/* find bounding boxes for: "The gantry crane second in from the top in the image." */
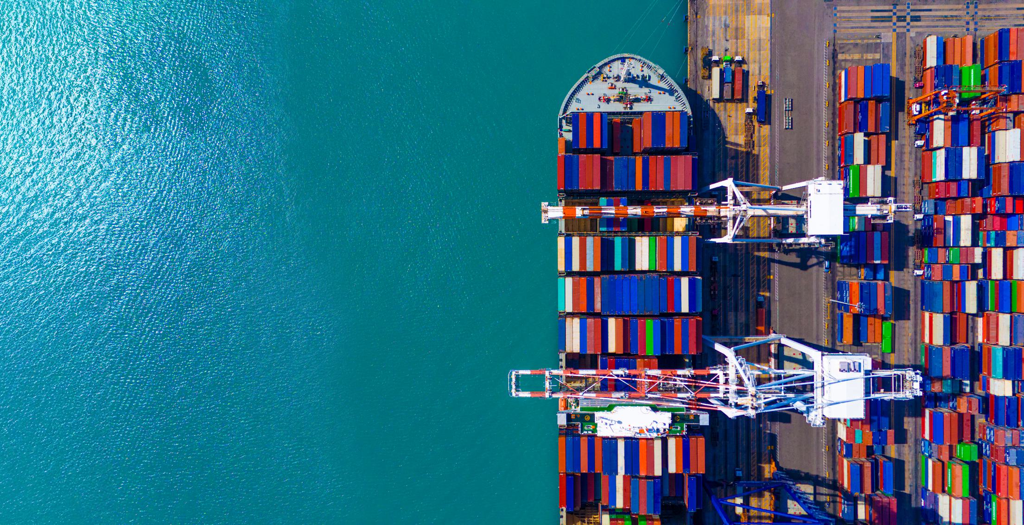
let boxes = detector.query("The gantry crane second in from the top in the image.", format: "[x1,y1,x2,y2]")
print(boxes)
[541,176,912,255]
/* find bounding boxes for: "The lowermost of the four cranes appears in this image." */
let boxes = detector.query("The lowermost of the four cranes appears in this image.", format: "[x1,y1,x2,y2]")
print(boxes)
[699,449,825,525]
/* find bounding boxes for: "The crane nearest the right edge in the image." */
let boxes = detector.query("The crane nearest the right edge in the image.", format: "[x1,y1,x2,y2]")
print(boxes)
[909,87,1009,126]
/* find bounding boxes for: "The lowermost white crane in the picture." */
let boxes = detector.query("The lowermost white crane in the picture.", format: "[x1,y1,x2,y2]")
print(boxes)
[508,324,923,428]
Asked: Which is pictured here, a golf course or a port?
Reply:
port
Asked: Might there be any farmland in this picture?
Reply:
No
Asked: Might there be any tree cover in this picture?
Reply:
No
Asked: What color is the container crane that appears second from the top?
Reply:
white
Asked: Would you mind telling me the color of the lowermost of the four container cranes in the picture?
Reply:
blue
